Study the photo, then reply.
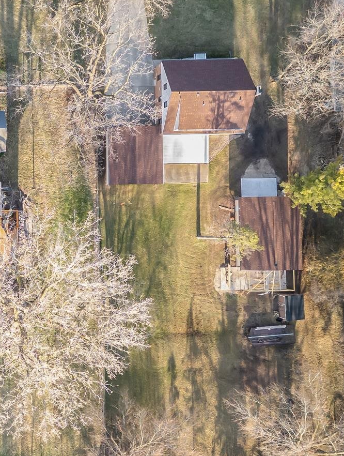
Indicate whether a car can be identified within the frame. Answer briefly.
No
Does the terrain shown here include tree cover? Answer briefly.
Yes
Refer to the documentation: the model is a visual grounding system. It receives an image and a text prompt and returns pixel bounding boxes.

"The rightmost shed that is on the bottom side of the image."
[273,295,305,321]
